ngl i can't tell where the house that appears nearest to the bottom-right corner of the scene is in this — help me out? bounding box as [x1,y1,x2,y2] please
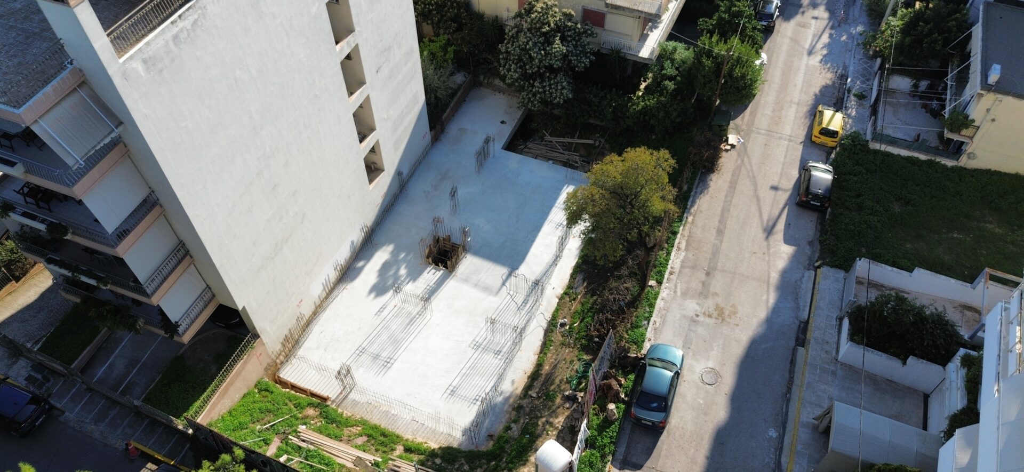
[949,301,1024,472]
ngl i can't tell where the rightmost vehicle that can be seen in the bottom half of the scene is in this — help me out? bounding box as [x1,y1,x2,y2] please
[627,339,685,430]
